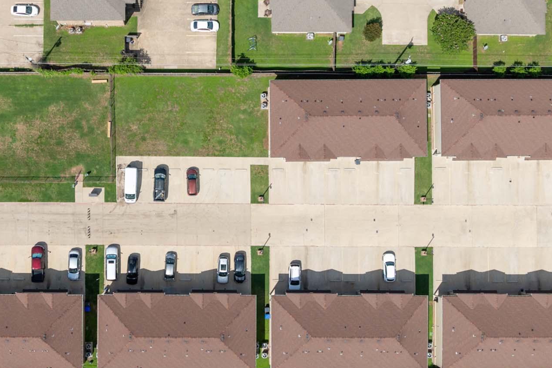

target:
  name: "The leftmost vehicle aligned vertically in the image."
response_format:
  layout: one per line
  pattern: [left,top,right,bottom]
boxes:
[31,245,45,282]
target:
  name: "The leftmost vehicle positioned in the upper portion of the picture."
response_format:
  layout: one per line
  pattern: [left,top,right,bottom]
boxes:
[11,2,39,16]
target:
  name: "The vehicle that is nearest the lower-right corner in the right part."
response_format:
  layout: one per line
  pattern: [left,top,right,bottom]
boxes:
[382,253,396,281]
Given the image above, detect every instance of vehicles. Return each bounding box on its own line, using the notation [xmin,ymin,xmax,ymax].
[216,256,230,283]
[185,167,199,196]
[191,18,219,33]
[123,168,137,202]
[382,253,396,281]
[191,2,219,15]
[163,252,177,279]
[104,246,118,279]
[288,262,302,288]
[67,251,80,279]
[31,245,45,282]
[11,2,39,16]
[124,254,139,283]
[153,167,167,200]
[233,251,246,281]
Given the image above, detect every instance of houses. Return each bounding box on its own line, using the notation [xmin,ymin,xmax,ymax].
[432,78,552,161]
[433,288,552,368]
[270,288,429,368]
[269,80,428,162]
[271,0,353,34]
[50,0,143,25]
[0,287,85,368]
[97,288,257,368]
[461,0,545,36]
